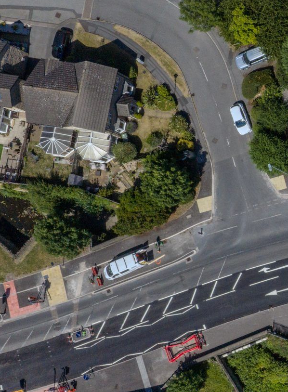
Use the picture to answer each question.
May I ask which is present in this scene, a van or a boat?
van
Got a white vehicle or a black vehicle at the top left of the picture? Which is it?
black vehicle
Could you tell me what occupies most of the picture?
paved ground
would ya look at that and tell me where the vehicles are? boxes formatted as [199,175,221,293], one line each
[105,250,156,279]
[235,49,270,68]
[50,26,77,61]
[230,103,253,136]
